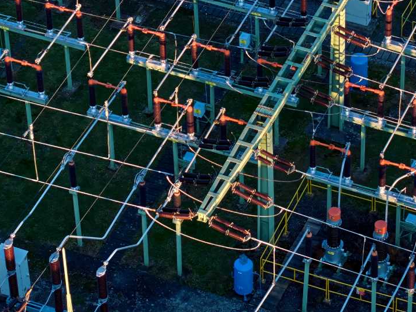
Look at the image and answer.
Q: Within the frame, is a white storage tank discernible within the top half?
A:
No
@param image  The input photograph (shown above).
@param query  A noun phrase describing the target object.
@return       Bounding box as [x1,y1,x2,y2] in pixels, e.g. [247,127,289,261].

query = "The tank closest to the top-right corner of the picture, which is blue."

[354,51,382,89]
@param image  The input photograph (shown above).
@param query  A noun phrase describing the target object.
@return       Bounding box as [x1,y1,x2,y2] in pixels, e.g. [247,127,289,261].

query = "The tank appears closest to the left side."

[234,255,265,296]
